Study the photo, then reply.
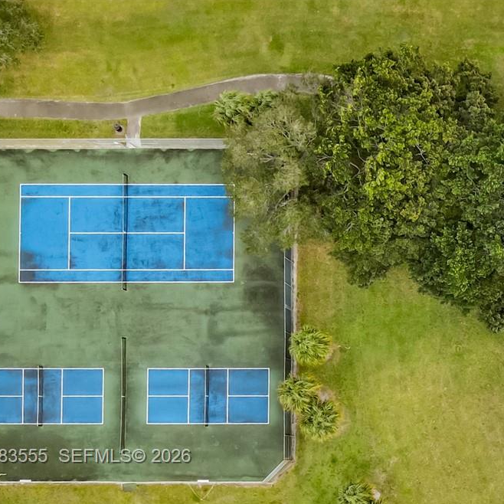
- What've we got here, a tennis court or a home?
tennis court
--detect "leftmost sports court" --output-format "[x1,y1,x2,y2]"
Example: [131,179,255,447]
[0,369,103,424]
